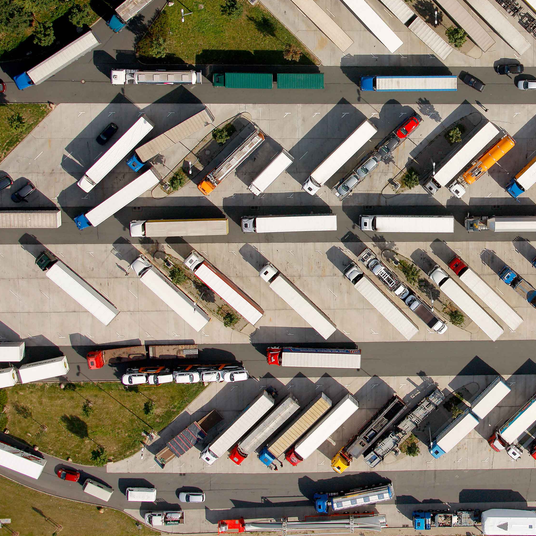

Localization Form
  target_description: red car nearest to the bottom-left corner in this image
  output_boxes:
[56,467,81,482]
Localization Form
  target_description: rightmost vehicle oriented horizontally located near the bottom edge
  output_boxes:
[412,512,482,533]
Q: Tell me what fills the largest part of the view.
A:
paved ground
